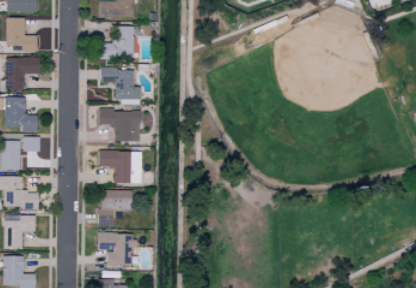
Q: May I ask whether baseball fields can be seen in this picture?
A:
Yes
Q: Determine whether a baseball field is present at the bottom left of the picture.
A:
No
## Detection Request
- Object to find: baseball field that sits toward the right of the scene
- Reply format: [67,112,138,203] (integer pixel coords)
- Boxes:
[200,10,414,192]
